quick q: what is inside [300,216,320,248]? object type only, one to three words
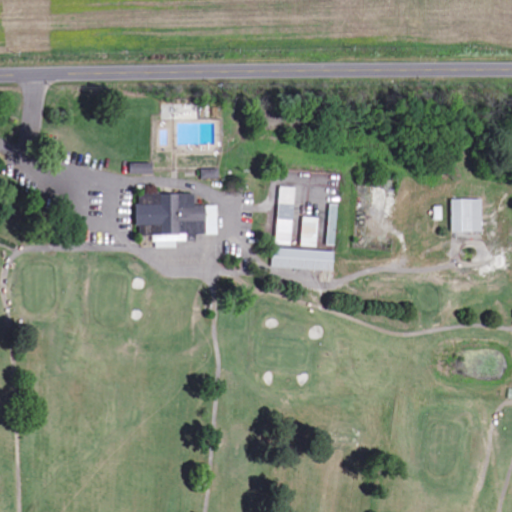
shed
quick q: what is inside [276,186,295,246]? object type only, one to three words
shed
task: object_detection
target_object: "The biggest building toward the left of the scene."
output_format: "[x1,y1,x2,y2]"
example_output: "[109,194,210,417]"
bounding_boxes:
[136,194,205,248]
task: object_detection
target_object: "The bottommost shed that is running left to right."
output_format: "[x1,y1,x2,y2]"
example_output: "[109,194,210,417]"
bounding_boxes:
[272,247,335,272]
